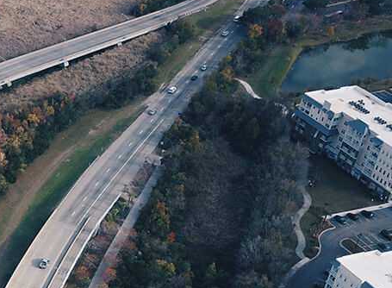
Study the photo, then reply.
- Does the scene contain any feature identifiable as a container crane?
No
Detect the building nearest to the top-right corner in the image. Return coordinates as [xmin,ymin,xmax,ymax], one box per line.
[285,81,392,199]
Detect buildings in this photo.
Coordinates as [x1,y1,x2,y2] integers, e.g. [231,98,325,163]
[318,249,392,288]
[285,81,392,199]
